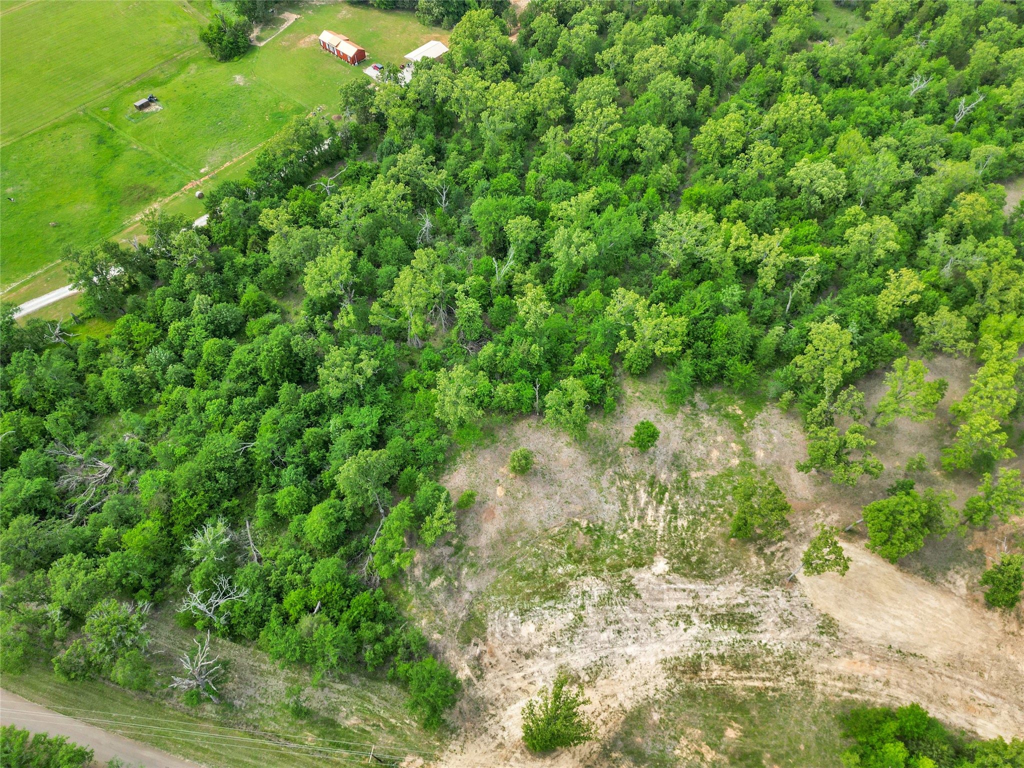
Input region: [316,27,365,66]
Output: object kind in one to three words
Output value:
building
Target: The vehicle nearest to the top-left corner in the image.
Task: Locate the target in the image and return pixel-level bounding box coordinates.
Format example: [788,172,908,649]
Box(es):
[144,90,165,103]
